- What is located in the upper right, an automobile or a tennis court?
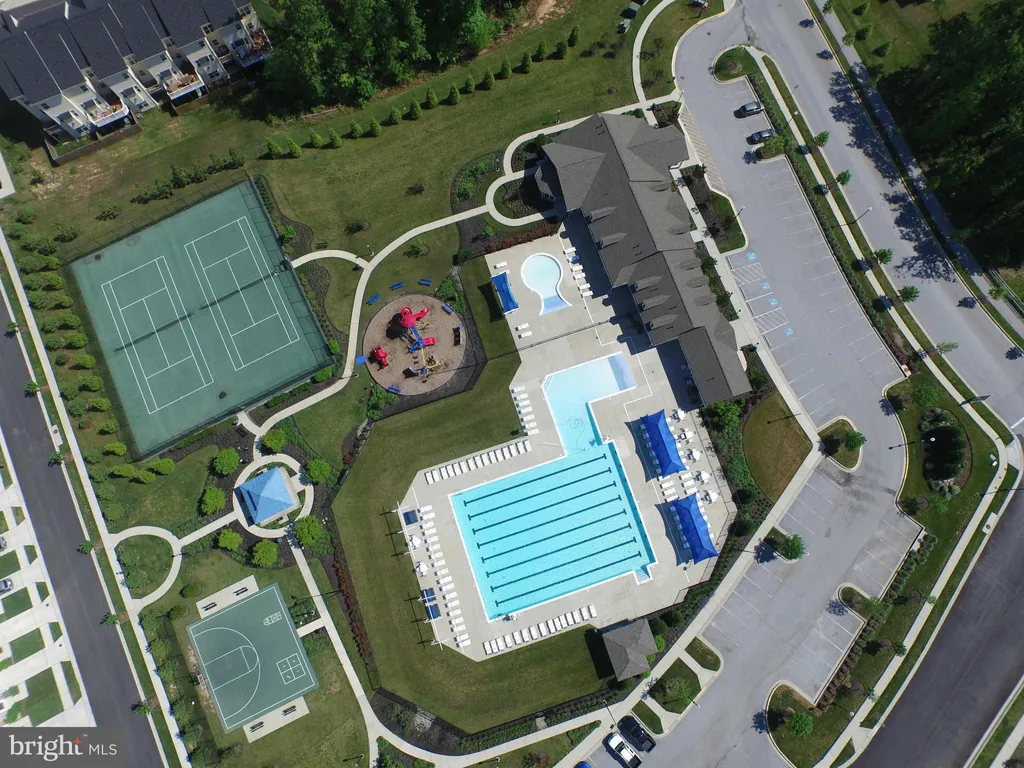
automobile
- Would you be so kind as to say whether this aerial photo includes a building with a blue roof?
Yes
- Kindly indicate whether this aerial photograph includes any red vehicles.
No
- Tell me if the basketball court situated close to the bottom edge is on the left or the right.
left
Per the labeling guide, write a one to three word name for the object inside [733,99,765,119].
car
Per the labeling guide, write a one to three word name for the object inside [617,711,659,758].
truck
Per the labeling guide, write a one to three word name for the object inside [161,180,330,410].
tennis court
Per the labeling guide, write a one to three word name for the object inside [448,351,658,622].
swimming pool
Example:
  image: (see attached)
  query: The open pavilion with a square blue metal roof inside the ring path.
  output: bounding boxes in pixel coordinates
[238,466,301,527]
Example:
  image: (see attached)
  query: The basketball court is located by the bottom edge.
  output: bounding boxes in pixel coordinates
[186,583,319,735]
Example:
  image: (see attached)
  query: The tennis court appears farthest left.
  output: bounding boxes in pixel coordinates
[71,221,238,456]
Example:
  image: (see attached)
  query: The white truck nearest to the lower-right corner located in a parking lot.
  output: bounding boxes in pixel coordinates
[602,728,642,768]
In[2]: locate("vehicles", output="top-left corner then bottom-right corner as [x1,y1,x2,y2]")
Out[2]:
[602,728,642,768]
[733,99,765,119]
[0,535,14,552]
[0,576,17,594]
[617,711,659,758]
[747,128,778,147]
